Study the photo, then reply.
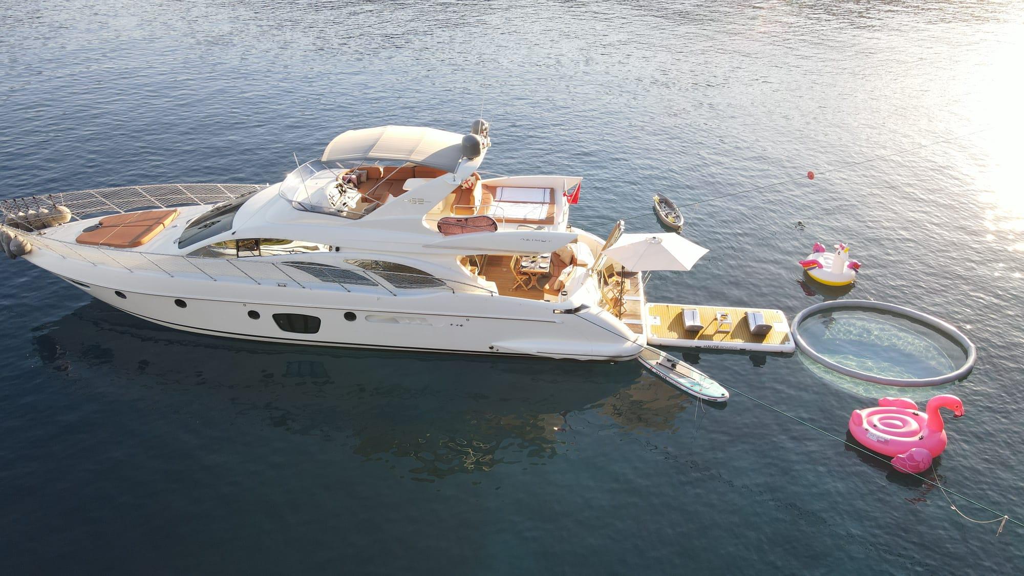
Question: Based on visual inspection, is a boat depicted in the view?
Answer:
Yes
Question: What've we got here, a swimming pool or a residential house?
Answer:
swimming pool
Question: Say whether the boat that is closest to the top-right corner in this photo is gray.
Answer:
Yes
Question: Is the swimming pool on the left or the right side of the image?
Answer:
right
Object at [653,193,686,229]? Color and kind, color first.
gray boat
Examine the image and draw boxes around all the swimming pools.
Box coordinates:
[790,300,975,409]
